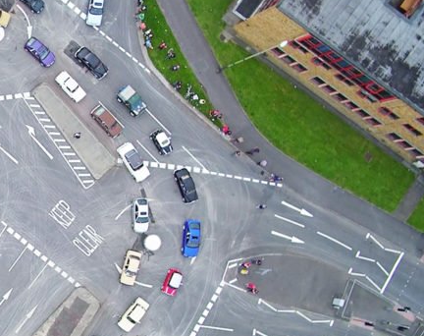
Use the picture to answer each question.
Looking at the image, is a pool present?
No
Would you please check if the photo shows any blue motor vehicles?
Yes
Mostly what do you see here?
paved ground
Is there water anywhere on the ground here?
No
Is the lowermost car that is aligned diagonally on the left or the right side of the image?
left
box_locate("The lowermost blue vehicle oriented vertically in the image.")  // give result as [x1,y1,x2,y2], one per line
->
[179,217,201,259]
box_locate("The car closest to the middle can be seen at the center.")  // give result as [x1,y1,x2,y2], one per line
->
[169,167,199,205]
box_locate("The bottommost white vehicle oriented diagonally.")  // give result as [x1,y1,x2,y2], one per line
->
[115,293,149,334]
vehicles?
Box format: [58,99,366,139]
[159,266,183,297]
[86,0,106,28]
[51,68,88,105]
[113,139,153,185]
[70,44,110,83]
[111,81,149,119]
[179,217,201,259]
[169,167,199,205]
[21,35,57,71]
[17,0,47,15]
[0,9,13,31]
[130,197,149,235]
[146,127,175,159]
[115,293,149,334]
[87,102,124,140]
[117,247,141,288]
